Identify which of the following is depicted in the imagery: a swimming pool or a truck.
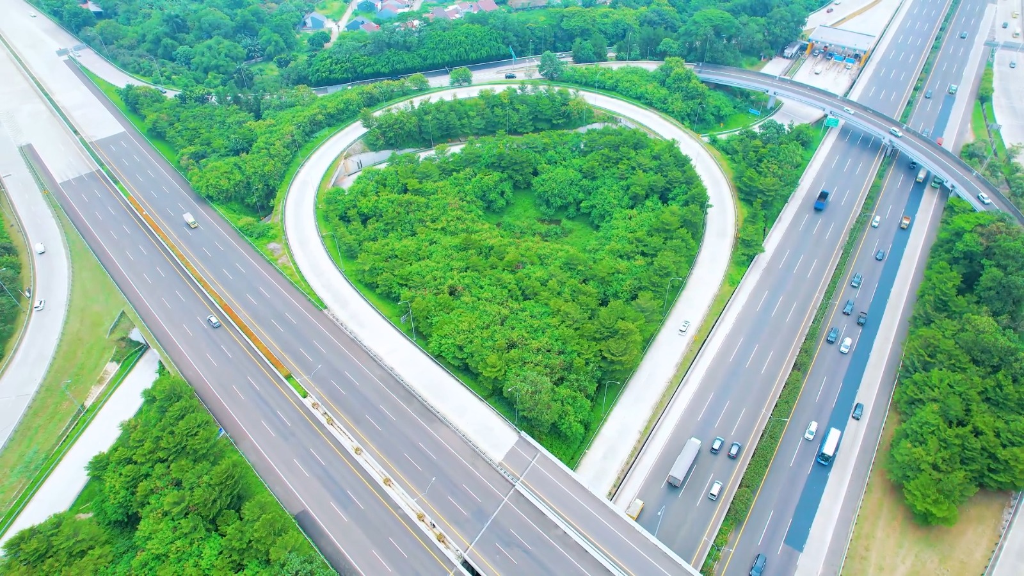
truck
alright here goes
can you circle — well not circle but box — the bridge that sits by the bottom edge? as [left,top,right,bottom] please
[432,431,712,576]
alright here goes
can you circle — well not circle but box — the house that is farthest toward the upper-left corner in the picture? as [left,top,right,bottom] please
[303,11,335,34]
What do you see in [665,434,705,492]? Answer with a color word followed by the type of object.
white truck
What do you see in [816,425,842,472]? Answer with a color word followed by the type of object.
white bus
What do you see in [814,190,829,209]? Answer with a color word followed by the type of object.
blue vehicle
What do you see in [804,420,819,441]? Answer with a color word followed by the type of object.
white car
